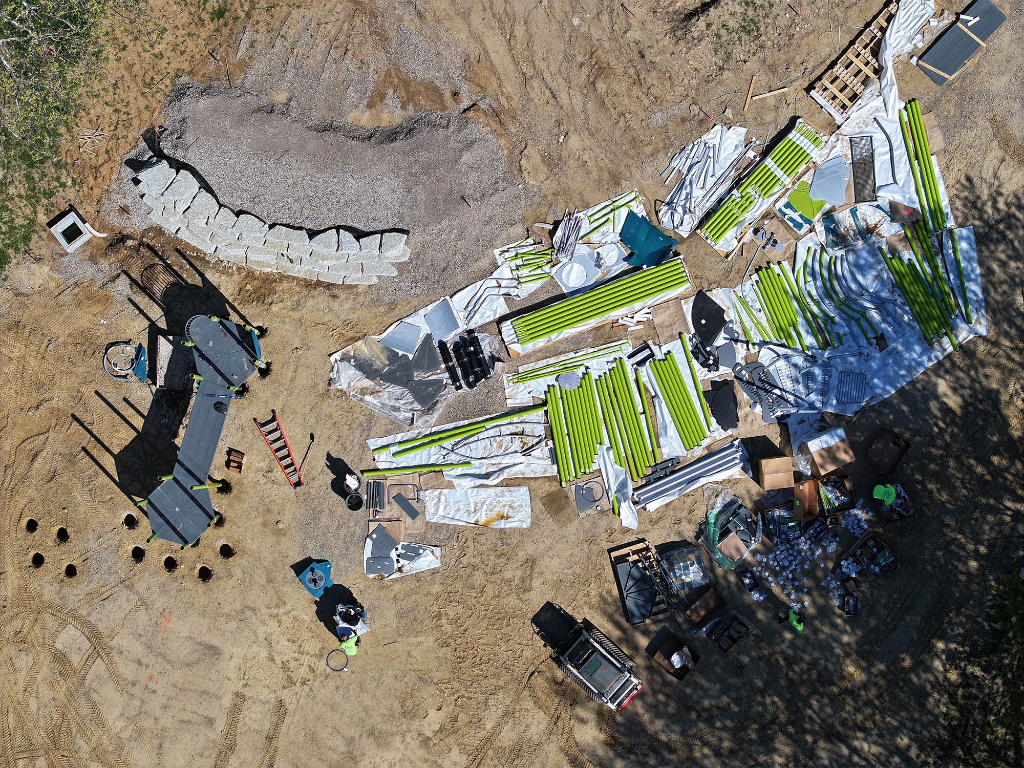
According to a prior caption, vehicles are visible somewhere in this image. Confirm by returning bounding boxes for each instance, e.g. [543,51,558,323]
[525,599,646,715]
